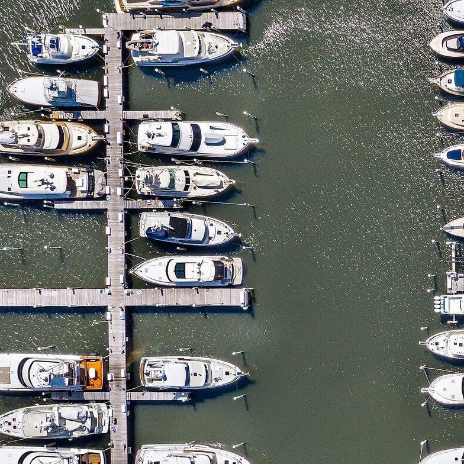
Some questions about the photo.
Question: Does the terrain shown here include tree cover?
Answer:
No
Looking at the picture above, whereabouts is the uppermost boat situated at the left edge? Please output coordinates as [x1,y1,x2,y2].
[15,31,103,66]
